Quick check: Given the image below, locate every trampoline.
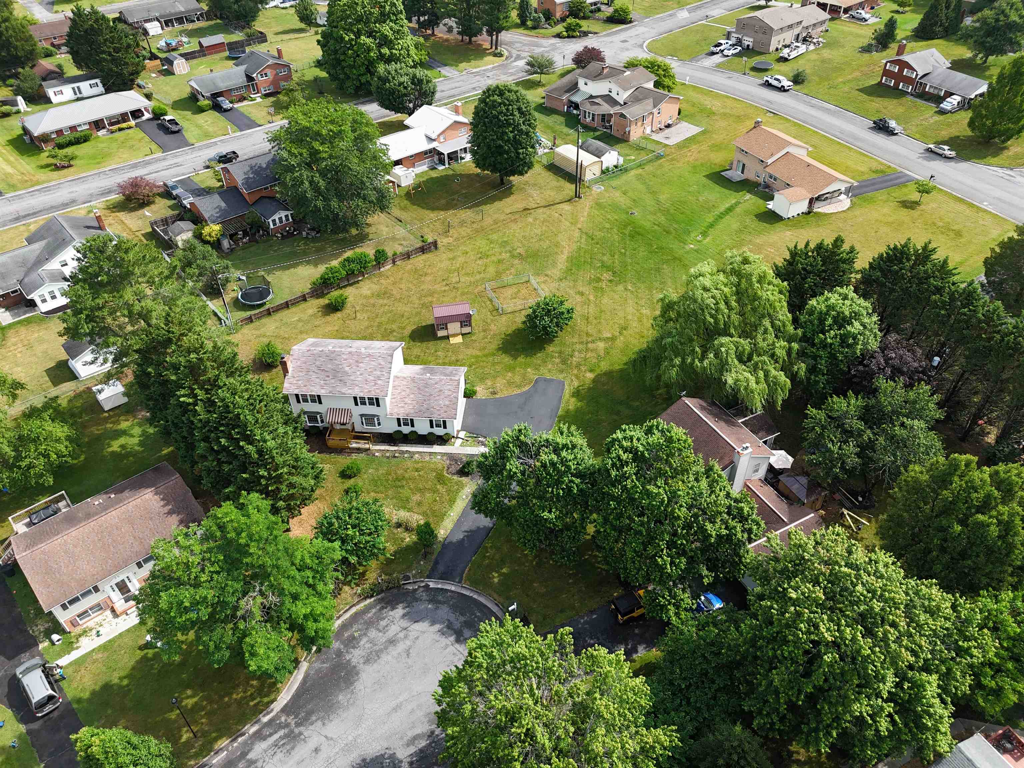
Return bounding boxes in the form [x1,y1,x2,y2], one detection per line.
[225,40,247,57]
[755,60,775,69]
[233,274,272,308]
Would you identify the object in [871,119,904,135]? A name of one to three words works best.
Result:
vehicle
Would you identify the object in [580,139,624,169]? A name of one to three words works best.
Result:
shed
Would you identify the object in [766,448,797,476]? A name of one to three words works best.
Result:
umbrella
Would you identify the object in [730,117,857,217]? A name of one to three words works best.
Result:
house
